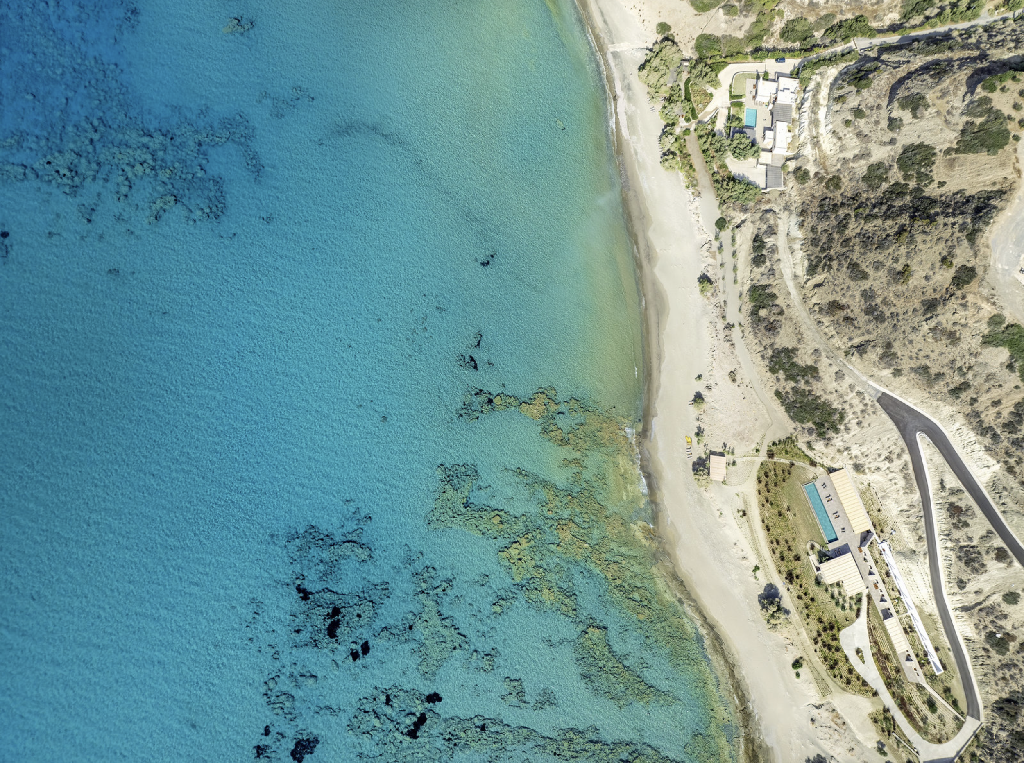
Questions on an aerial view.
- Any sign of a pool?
Yes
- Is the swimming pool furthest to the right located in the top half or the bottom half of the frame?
bottom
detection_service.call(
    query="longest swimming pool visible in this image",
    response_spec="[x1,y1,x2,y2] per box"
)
[802,481,840,544]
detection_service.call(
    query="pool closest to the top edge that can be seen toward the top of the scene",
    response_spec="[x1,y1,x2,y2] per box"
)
[745,107,758,128]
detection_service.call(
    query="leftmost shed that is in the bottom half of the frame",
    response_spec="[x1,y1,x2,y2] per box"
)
[708,455,726,481]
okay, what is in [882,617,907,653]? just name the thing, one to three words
building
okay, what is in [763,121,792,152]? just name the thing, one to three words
house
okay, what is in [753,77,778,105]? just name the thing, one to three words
house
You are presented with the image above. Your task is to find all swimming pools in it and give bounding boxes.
[745,107,758,128]
[802,481,840,544]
